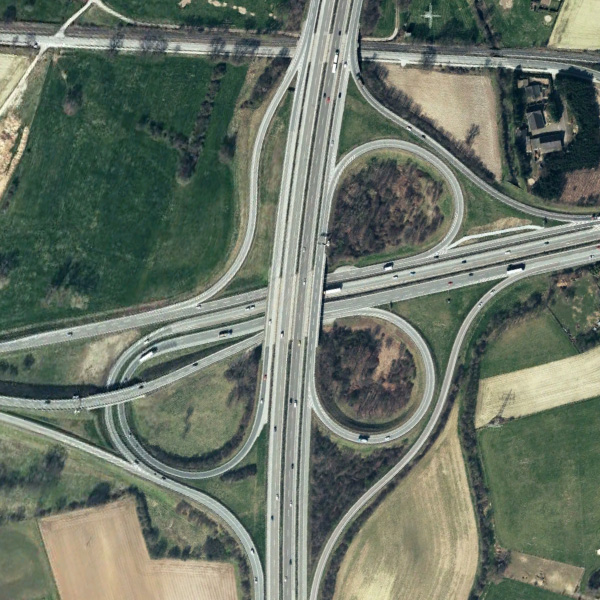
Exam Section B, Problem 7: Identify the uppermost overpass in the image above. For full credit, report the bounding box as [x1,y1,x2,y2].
[294,22,362,72]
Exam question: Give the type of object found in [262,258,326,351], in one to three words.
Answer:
overpass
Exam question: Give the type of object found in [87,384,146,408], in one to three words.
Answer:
overpass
